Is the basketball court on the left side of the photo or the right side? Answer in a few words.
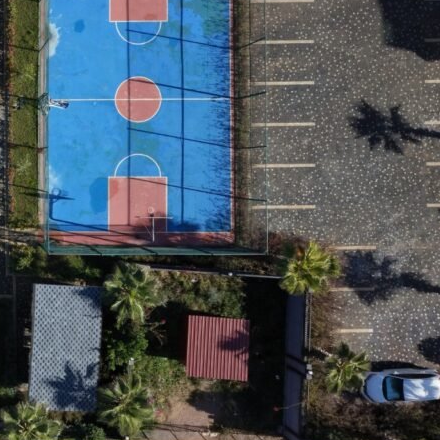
left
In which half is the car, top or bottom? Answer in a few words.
bottom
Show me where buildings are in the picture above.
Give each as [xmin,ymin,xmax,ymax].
[26,278,101,413]
[179,312,249,381]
